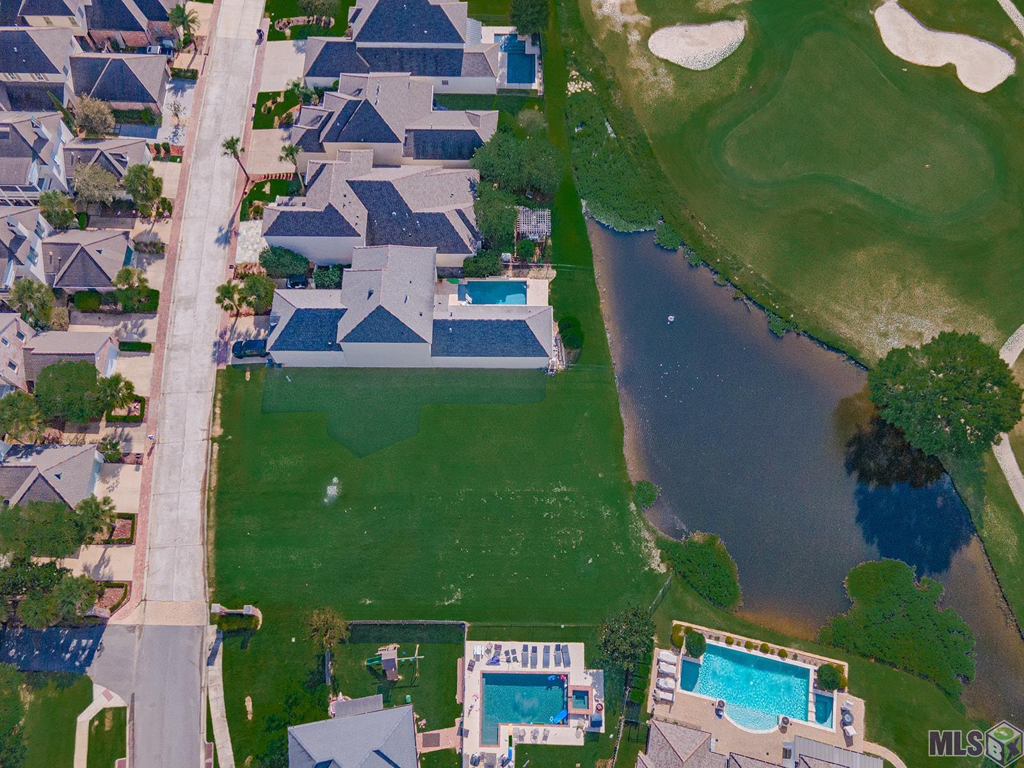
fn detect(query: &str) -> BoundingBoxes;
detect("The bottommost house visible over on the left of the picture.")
[287,694,420,768]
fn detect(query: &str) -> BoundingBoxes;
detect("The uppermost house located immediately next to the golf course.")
[304,0,498,93]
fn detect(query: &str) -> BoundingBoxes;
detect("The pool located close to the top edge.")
[492,32,537,84]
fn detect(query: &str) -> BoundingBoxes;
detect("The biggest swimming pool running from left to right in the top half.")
[456,279,529,306]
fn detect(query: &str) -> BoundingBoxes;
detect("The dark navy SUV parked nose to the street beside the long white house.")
[228,339,269,359]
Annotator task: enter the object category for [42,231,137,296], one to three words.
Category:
building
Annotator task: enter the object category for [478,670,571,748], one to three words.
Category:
swimming pool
